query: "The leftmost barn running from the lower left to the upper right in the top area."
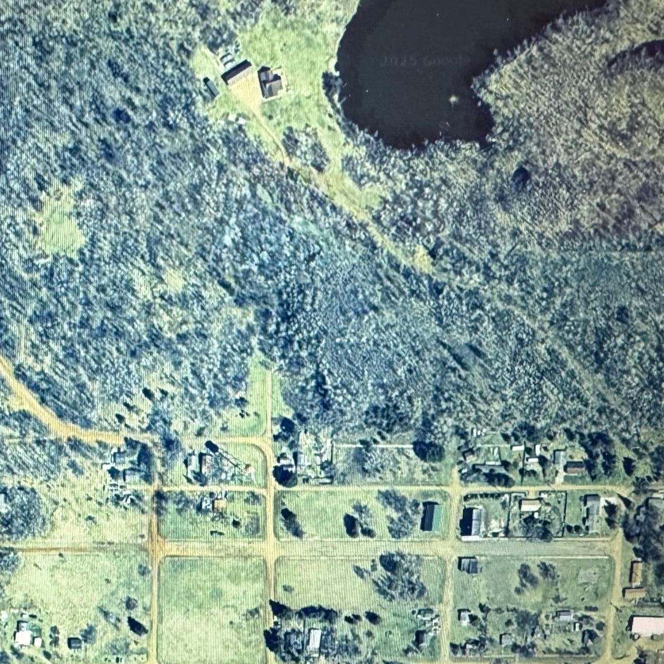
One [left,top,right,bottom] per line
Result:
[223,59,254,85]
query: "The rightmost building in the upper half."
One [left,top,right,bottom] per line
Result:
[261,72,284,98]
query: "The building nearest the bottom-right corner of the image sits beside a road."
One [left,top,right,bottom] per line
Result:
[632,618,664,637]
